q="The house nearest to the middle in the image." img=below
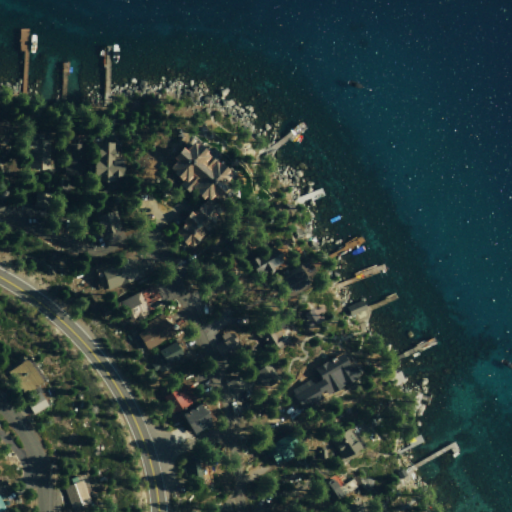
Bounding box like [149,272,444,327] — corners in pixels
[254,252,286,274]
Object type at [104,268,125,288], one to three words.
house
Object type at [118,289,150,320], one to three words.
house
